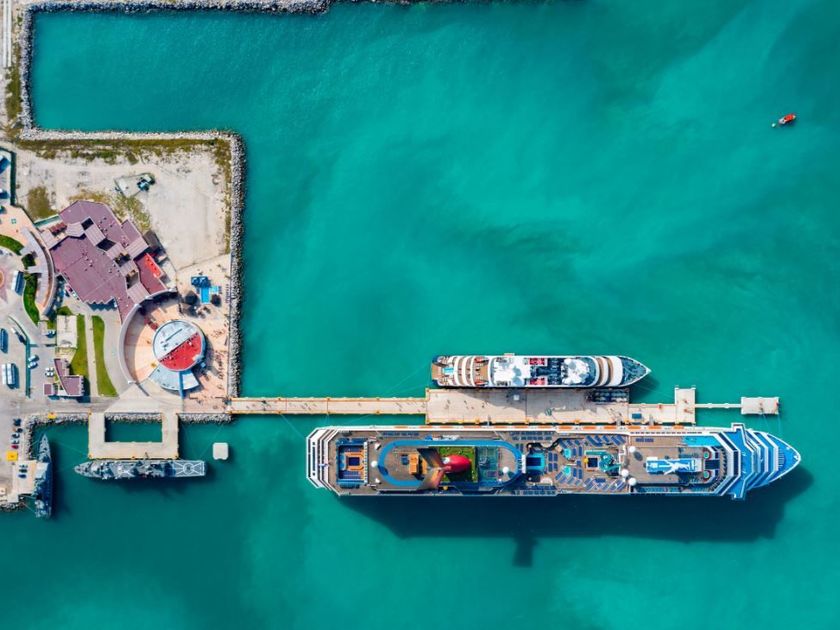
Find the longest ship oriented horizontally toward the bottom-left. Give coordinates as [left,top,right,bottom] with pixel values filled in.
[74,459,208,479]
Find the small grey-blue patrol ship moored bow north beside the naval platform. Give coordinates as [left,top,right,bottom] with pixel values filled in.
[34,434,56,517]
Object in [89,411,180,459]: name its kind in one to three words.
pier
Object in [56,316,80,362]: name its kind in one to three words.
building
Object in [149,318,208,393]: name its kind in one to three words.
building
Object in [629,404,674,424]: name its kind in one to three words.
pier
